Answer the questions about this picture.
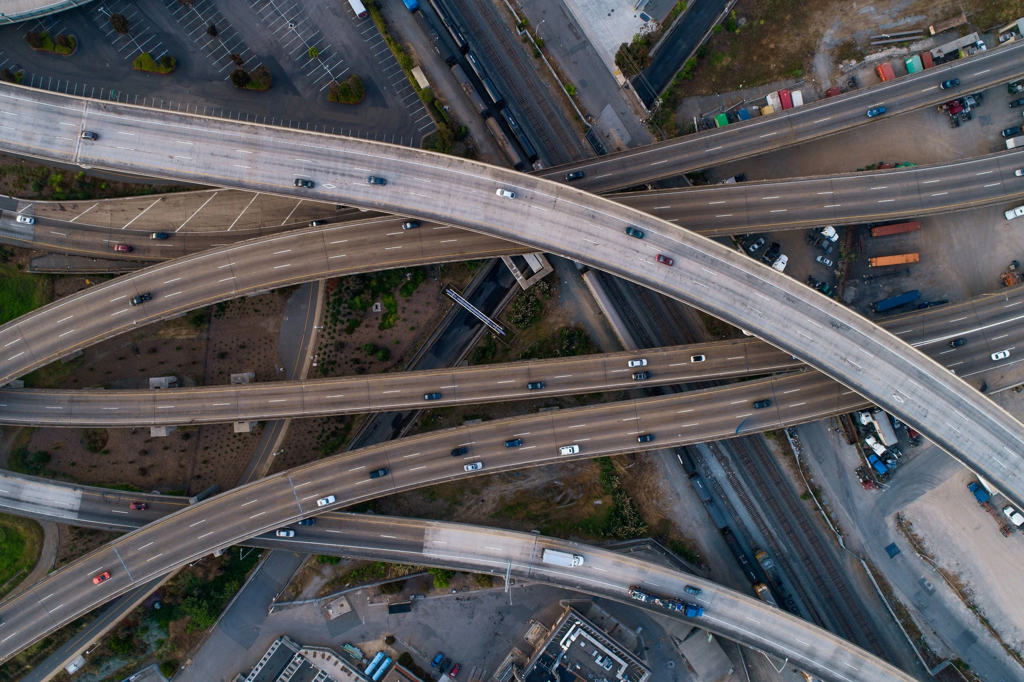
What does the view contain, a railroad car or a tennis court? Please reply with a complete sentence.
There is a railroad car in the scene.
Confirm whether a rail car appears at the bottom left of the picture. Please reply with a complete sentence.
No, at the bottom left of the picture there is no rail car.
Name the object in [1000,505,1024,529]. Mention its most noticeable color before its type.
white truck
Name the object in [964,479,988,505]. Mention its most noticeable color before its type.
blue truck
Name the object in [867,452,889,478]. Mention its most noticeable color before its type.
blue truck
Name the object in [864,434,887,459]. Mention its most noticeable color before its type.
white truck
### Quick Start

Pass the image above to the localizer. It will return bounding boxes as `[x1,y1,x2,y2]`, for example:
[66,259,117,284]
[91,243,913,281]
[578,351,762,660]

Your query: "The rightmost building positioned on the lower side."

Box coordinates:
[674,623,734,680]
